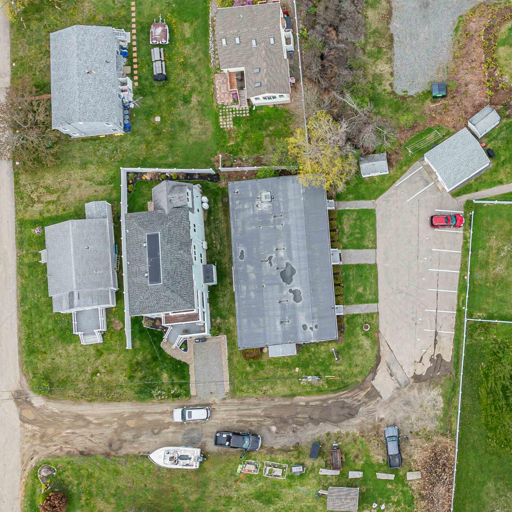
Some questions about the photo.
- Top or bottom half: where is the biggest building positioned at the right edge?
top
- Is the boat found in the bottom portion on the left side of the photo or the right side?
left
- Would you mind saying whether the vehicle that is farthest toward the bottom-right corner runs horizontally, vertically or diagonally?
vertically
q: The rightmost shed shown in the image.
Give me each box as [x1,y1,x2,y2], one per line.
[468,105,500,138]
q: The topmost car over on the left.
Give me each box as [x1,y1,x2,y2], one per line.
[173,405,213,423]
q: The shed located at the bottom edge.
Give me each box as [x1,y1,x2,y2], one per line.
[318,486,359,512]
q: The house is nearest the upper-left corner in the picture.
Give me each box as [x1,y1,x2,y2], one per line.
[51,25,137,133]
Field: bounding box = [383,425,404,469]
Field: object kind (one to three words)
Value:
vehicle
